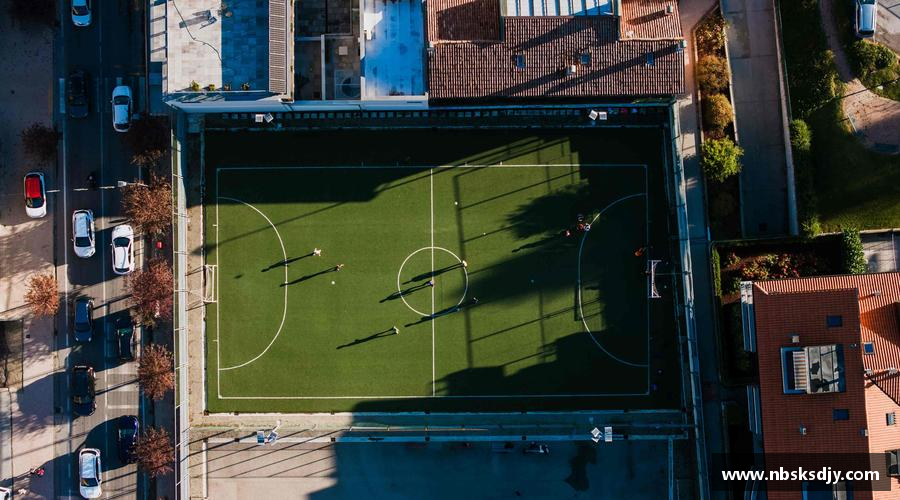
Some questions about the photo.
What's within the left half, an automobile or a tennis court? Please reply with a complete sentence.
What appears within the left half is an automobile.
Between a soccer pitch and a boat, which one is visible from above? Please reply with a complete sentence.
This aerial view contains a soccer pitch.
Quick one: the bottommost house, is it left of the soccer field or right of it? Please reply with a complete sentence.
The bottommost house can be seen on the right of the soccer field.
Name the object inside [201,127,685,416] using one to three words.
soccer field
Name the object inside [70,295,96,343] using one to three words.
car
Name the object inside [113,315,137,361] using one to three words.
car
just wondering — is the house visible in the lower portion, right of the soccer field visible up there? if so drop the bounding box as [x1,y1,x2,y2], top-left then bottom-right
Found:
[738,273,900,500]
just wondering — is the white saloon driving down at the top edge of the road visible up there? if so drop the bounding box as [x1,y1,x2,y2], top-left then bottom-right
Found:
[69,0,93,29]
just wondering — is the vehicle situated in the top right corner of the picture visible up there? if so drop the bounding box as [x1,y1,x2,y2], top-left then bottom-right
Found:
[853,0,880,40]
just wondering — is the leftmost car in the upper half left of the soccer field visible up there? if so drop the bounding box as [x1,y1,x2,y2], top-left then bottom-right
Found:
[23,171,49,219]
